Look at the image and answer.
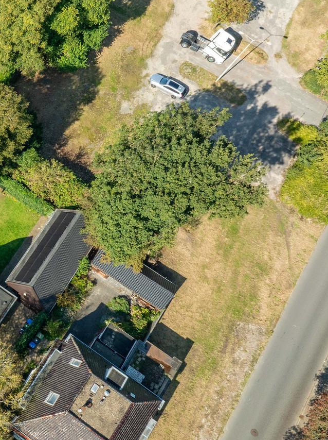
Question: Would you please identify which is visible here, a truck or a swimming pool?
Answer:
truck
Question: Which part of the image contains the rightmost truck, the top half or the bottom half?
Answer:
top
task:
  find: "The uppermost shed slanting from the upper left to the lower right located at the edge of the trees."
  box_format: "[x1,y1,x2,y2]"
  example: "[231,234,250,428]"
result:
[86,242,177,313]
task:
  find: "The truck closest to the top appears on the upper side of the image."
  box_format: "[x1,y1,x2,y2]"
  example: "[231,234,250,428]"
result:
[181,27,242,66]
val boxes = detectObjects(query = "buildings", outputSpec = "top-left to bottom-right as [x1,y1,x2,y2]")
[10,334,163,440]
[86,242,177,313]
[4,208,95,314]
